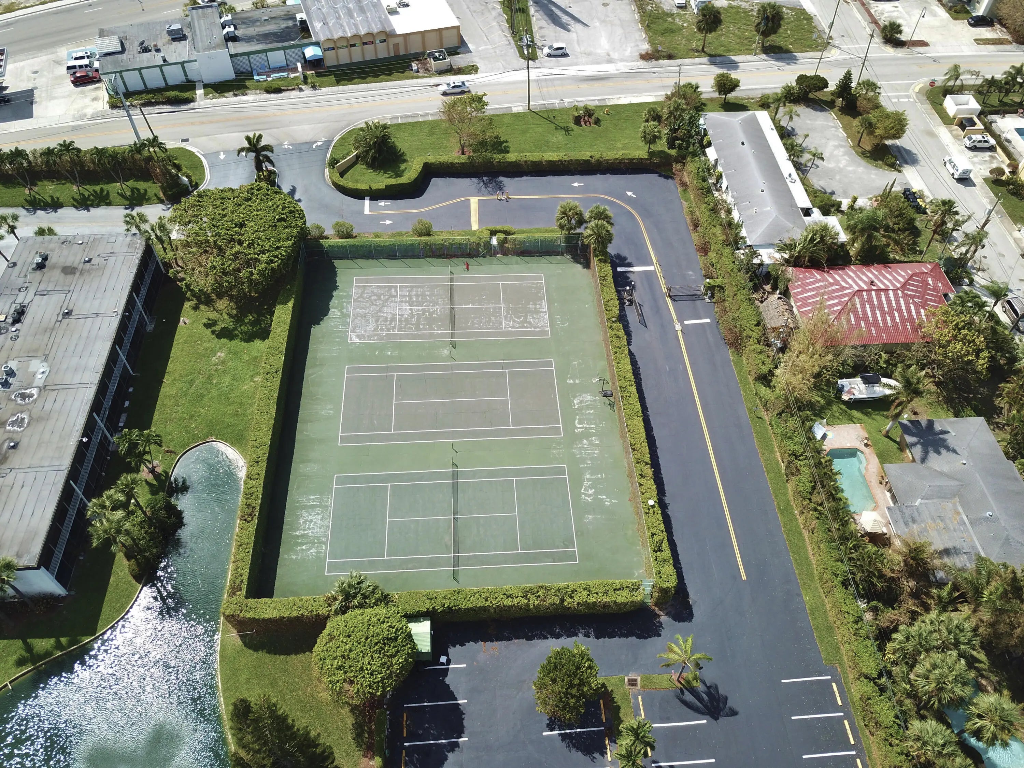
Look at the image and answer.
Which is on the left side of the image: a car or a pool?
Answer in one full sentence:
Visible on the left side of the image is a car.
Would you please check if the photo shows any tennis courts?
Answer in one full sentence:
Yes, you can see a tennis court in this photo.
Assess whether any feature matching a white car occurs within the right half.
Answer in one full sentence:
Yes, there is a white car within the right half.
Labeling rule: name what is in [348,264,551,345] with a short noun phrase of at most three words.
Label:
tennis court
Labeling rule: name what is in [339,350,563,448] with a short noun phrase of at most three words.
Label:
tennis court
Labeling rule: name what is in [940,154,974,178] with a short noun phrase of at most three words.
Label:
truck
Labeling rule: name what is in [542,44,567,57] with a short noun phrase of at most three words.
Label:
vehicle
